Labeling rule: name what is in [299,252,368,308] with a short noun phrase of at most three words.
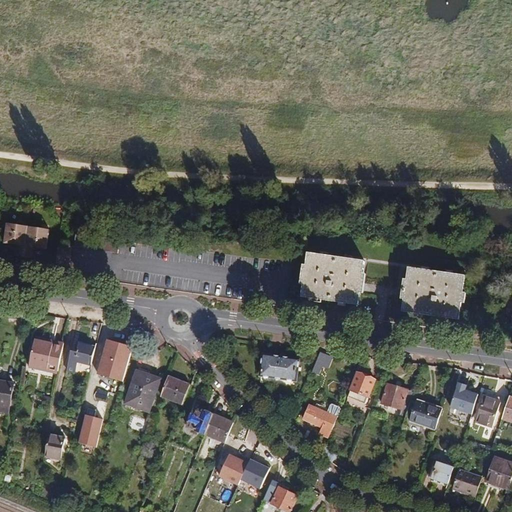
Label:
building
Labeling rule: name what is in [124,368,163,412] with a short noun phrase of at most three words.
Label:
house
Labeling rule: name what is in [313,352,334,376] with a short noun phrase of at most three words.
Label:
shed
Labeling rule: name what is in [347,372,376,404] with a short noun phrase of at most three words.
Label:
house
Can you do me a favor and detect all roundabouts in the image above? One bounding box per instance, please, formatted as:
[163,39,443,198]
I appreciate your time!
[126,297,222,368]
